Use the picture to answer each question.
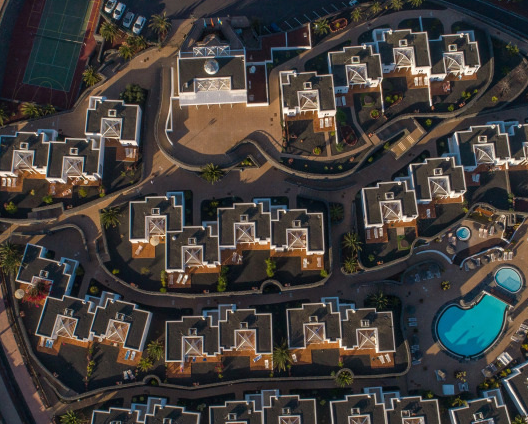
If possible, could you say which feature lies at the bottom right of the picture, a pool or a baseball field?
pool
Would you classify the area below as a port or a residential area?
residential area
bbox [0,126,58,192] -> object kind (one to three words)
house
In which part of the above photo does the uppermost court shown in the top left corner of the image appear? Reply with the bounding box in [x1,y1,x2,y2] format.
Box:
[0,0,100,106]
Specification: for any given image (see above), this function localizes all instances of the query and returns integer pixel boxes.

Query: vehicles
[103,0,118,13]
[345,0,362,9]
[132,14,147,33]
[112,2,127,19]
[120,9,136,28]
